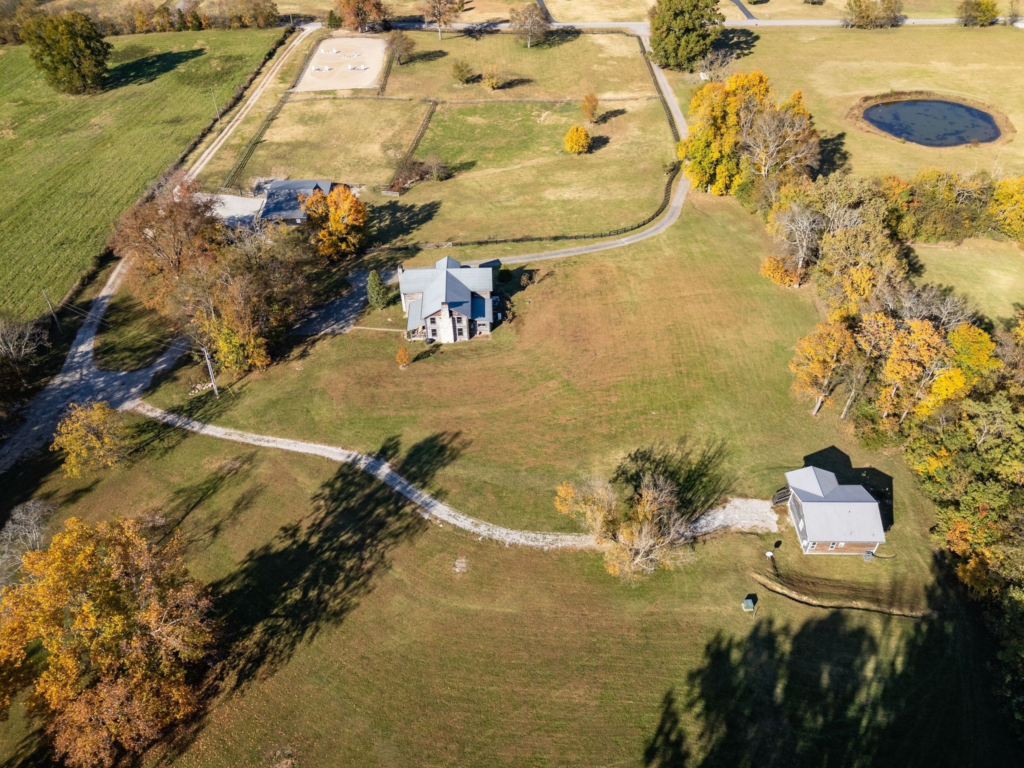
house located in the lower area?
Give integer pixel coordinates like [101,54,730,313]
[757,462,887,557]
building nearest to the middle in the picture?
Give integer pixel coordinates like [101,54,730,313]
[400,257,493,343]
